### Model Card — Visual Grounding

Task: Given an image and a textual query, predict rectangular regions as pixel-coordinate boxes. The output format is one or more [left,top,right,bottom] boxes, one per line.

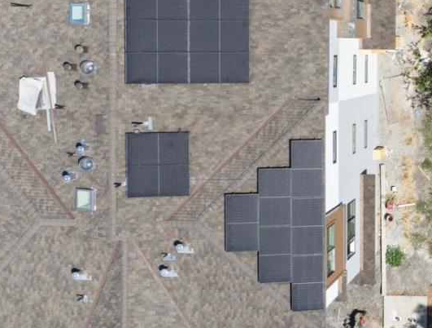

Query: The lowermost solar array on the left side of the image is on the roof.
[126,132,191,197]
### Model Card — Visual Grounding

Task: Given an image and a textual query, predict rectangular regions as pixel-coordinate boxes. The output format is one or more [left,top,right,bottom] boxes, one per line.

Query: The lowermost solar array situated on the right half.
[225,138,325,310]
